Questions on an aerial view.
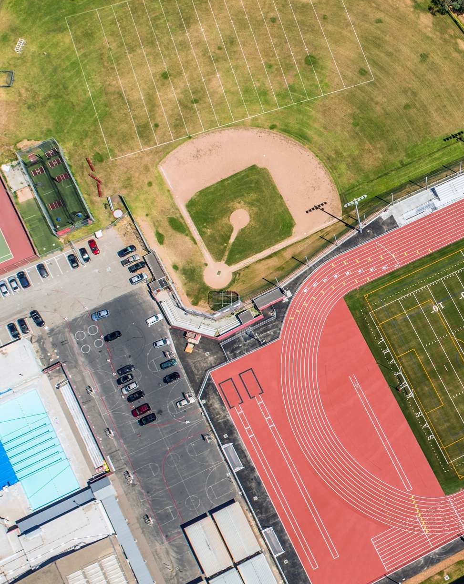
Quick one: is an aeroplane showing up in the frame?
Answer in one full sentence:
No, there isn't any aeroplane down there.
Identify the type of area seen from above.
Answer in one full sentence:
The picture captures a sports ground.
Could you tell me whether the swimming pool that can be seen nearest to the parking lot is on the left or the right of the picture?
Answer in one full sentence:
It is on the left.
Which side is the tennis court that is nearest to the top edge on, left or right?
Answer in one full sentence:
You can find the tennis court that is nearest to the top edge on the left side of the picture.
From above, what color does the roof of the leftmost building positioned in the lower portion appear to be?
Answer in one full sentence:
The roof of the leftmost building positioned in the lower portion is white.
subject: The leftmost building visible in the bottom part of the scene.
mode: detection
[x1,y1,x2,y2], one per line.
[0,339,48,396]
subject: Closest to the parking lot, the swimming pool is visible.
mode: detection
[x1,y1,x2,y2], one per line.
[0,389,81,512]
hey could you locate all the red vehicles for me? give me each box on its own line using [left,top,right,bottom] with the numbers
[88,239,99,254]
[129,403,153,417]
